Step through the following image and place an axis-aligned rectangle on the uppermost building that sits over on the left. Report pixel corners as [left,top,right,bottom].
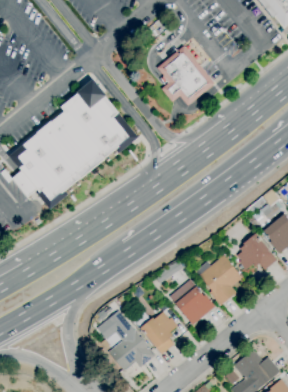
[4,76,138,208]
